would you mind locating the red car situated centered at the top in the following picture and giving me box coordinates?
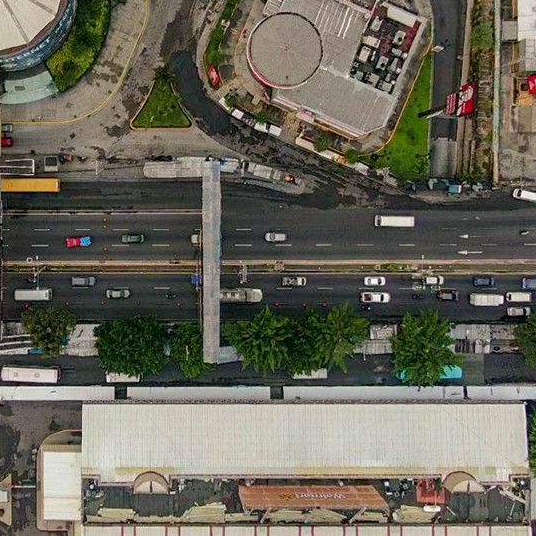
[208,65,222,86]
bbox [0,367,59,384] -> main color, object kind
white vehicle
